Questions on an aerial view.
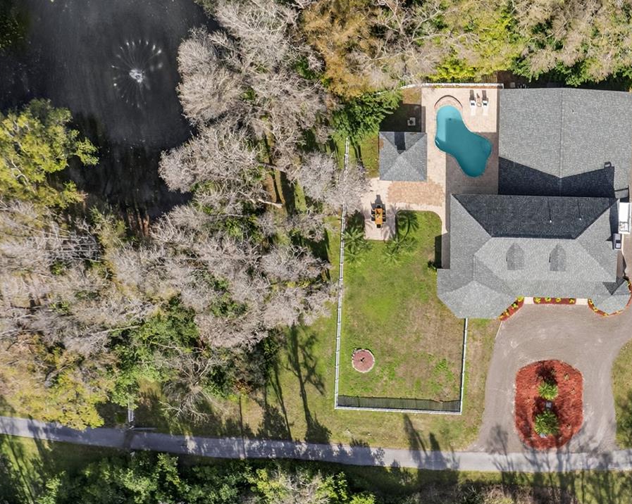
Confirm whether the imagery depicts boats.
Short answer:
No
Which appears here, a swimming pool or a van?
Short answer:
swimming pool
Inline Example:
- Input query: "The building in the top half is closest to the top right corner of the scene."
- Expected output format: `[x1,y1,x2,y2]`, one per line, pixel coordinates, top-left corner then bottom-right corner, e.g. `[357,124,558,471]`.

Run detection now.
[498,88,632,201]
